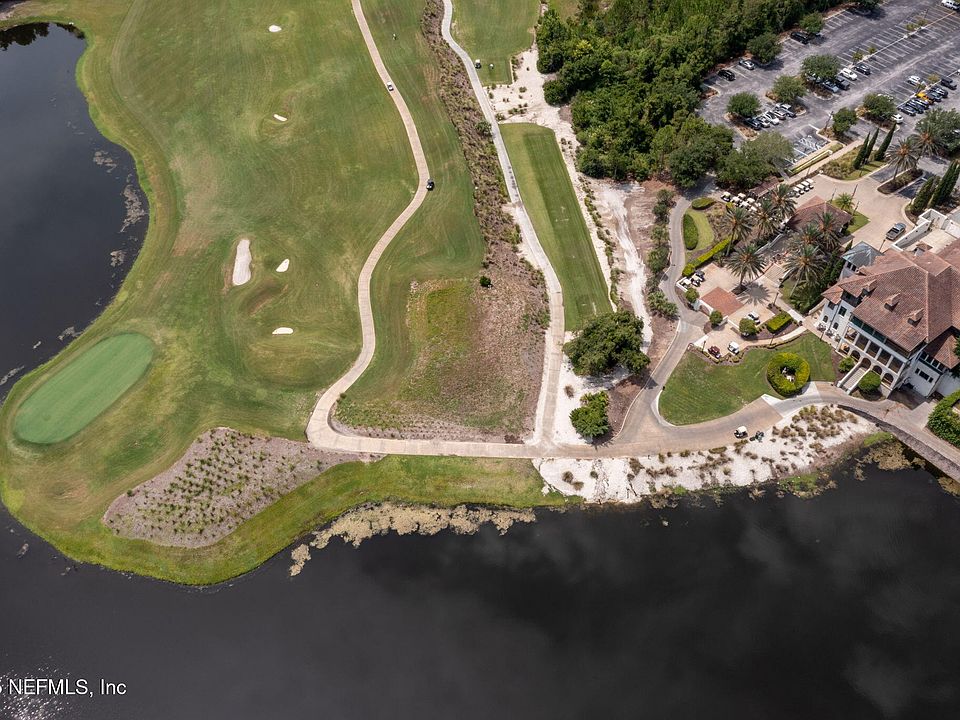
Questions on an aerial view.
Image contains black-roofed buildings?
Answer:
No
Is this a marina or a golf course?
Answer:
golf course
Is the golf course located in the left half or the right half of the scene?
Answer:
left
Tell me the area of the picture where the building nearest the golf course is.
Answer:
right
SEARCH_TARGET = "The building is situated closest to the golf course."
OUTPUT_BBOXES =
[697,286,744,328]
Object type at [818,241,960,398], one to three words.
building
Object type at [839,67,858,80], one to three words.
vehicle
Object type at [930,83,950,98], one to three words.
car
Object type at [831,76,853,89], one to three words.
vehicle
